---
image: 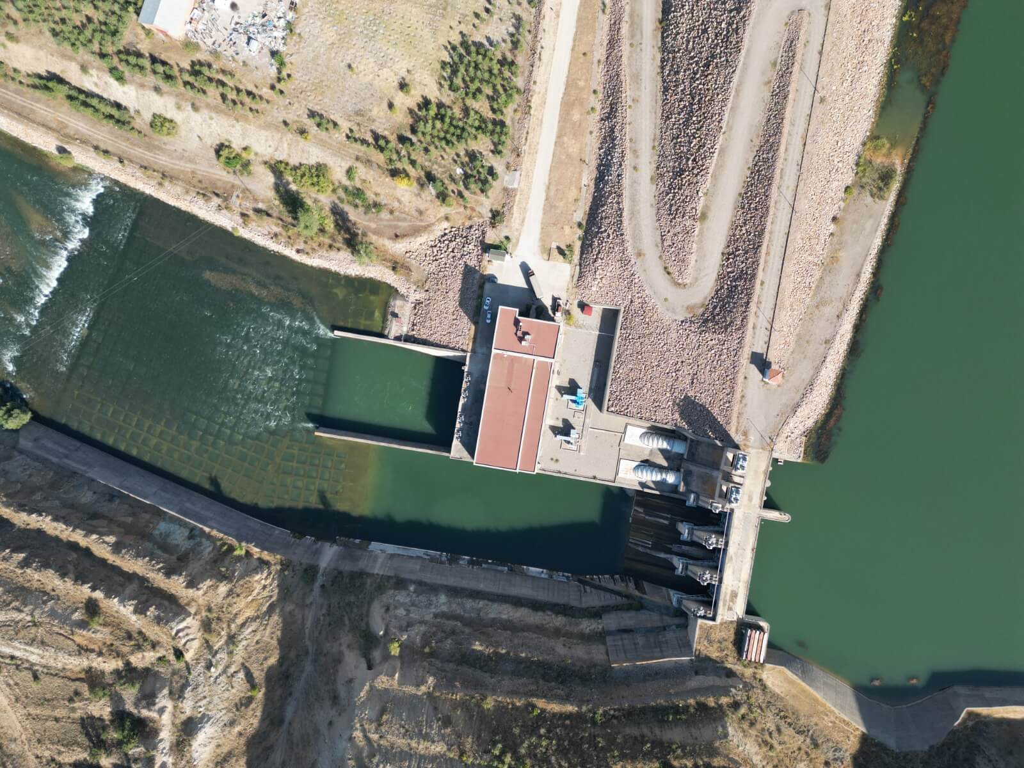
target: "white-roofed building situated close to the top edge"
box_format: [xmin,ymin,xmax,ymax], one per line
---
[138,0,194,42]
